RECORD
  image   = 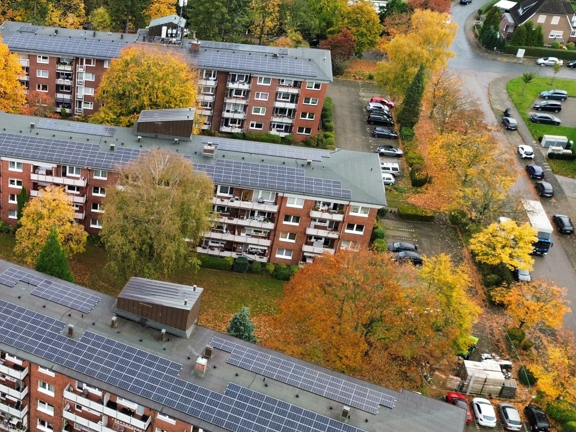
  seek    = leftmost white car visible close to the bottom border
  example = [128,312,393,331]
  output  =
[469,399,500,431]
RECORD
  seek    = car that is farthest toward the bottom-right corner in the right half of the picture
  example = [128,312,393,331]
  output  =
[520,406,553,432]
